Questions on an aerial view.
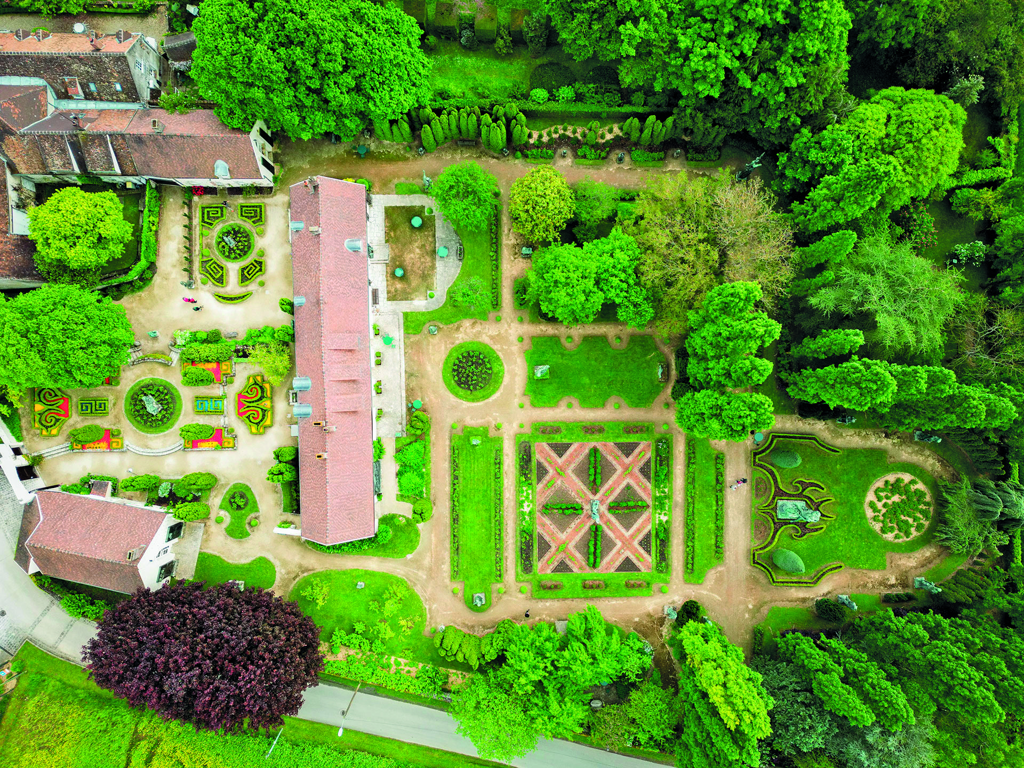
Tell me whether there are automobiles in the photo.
No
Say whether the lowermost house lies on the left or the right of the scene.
left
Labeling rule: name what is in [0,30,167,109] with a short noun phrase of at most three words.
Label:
house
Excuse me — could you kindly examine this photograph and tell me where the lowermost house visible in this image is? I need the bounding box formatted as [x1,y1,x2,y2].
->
[14,493,179,594]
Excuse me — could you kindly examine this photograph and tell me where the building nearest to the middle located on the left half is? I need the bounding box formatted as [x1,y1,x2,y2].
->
[289,175,378,546]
